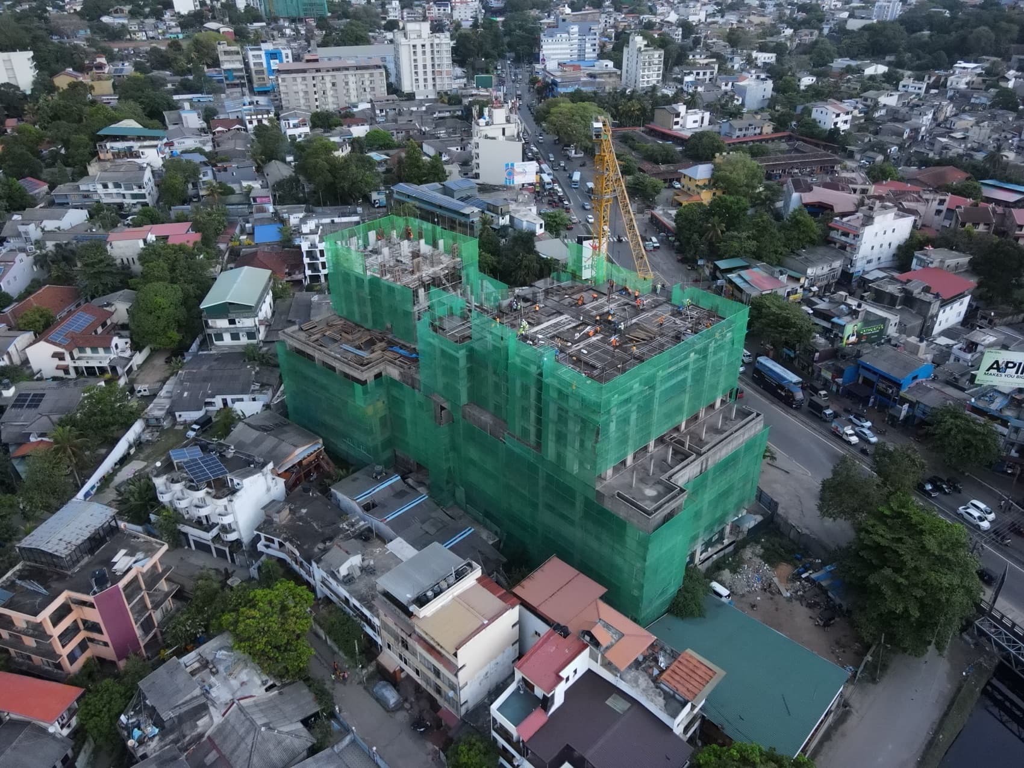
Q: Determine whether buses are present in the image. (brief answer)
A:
Yes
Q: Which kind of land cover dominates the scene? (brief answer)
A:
buildings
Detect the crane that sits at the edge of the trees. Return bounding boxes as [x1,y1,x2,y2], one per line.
[580,122,661,348]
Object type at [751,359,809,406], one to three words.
bus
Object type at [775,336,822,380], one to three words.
house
